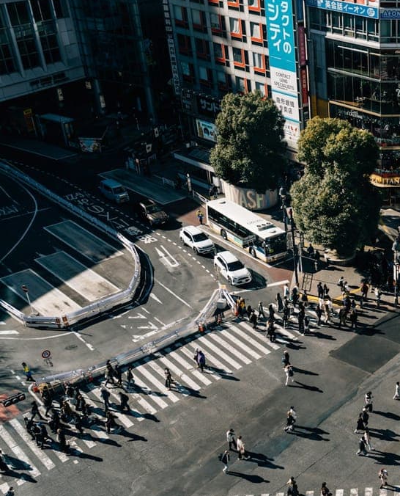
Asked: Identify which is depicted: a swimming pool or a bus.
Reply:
bus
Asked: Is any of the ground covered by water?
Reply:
No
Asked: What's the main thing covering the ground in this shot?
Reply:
paved ground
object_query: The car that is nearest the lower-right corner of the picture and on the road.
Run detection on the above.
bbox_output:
[216,249,250,282]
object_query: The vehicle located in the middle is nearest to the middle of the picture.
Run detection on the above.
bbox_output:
[179,224,213,253]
